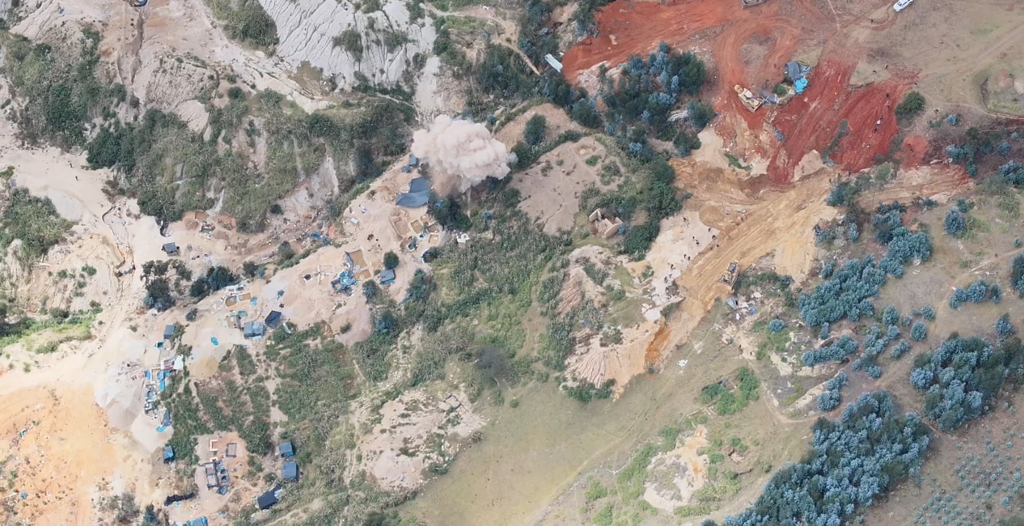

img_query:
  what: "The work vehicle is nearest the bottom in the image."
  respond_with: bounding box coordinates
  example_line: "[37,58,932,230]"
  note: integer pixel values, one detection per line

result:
[717,255,742,281]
